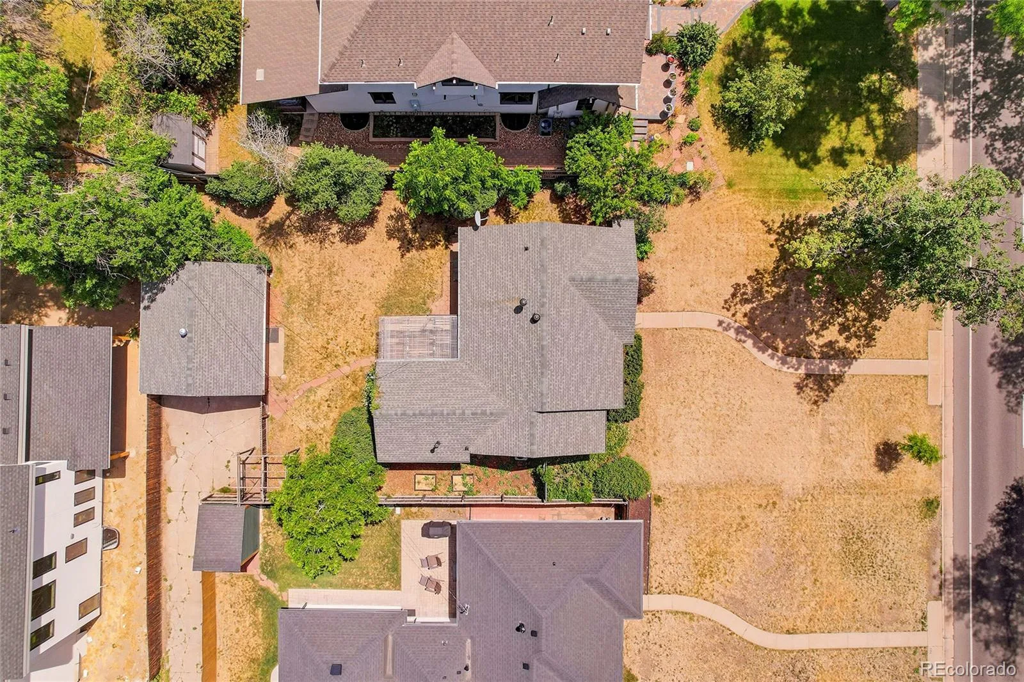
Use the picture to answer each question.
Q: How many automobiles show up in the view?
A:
none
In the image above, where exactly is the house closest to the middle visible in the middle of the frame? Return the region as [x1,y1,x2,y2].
[374,220,638,464]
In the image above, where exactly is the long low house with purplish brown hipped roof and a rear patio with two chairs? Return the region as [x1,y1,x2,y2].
[278,518,644,682]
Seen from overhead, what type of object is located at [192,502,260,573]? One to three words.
shed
